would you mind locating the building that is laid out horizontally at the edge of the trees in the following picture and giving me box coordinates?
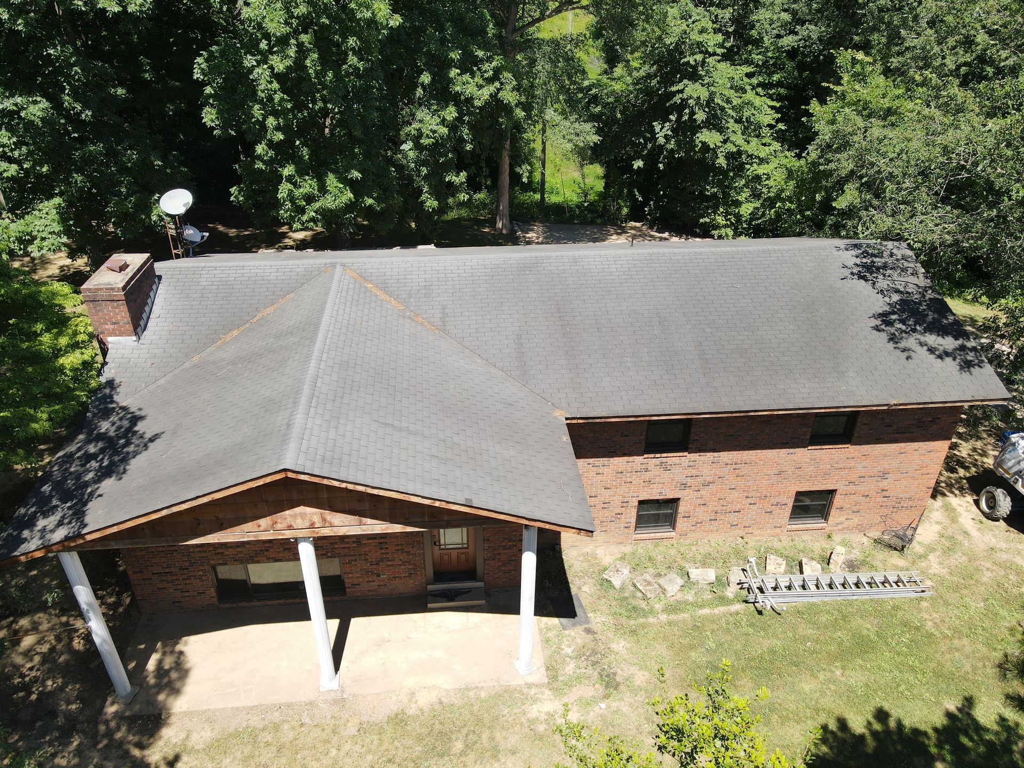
[0,232,1010,707]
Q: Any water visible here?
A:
No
